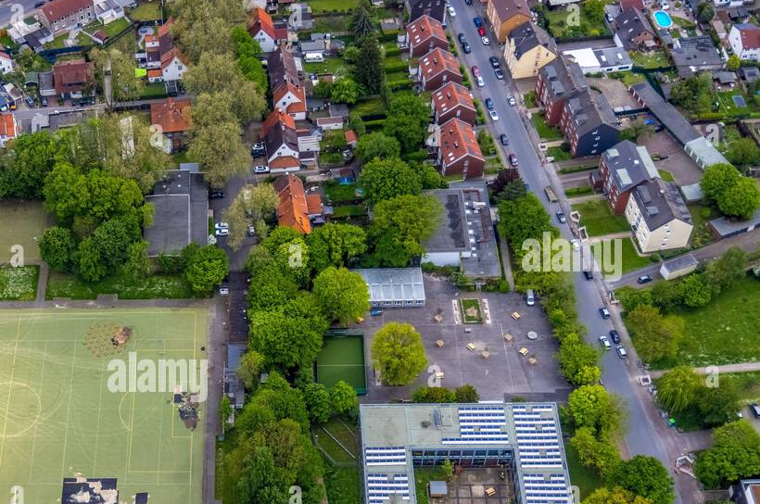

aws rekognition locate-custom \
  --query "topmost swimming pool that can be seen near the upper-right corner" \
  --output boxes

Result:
[652,7,675,29]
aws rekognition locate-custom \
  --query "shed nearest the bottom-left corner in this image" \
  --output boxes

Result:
[225,373,245,405]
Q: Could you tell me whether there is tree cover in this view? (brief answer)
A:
Yes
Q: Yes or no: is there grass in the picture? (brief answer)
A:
Yes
